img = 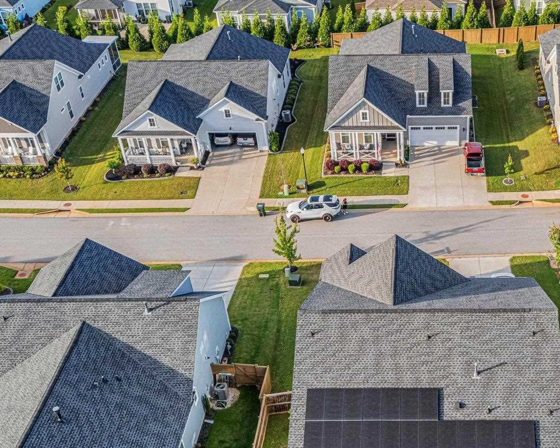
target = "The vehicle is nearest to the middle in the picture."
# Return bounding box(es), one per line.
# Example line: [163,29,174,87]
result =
[286,192,340,221]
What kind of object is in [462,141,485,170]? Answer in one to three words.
truck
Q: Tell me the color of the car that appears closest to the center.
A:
white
